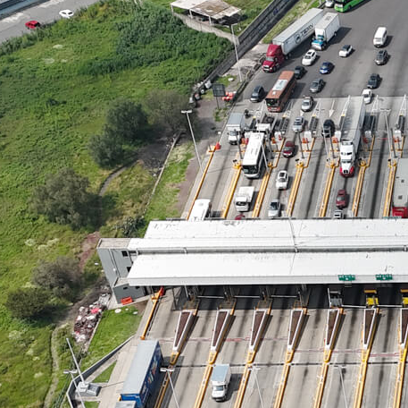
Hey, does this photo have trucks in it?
Yes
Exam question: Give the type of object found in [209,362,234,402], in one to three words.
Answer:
truck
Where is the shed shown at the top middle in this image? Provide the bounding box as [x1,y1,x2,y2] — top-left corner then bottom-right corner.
[167,0,240,28]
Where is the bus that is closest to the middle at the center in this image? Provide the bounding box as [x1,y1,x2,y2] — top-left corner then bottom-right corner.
[190,197,217,218]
